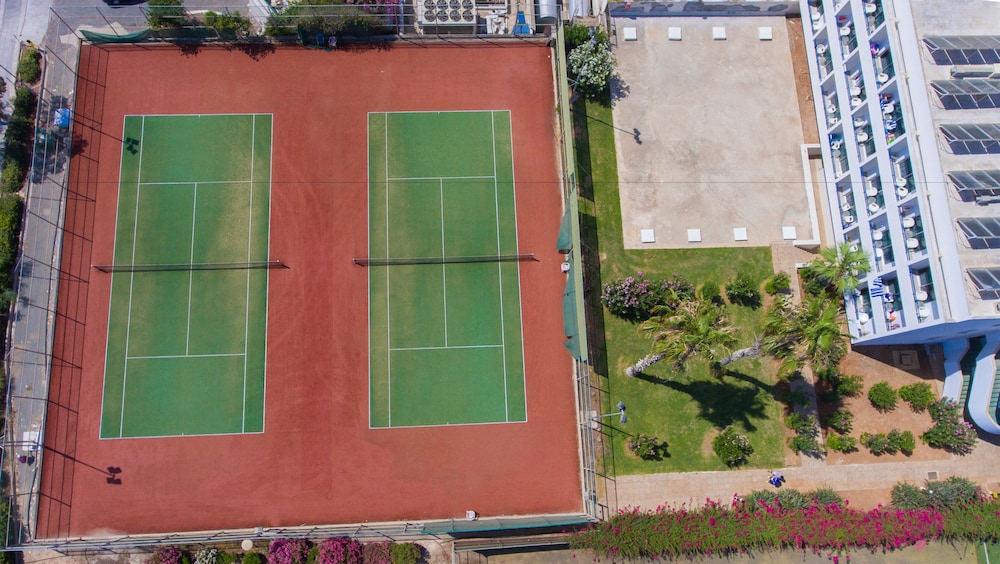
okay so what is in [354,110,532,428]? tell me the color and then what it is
green tennis court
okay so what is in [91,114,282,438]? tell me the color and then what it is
green tennis court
